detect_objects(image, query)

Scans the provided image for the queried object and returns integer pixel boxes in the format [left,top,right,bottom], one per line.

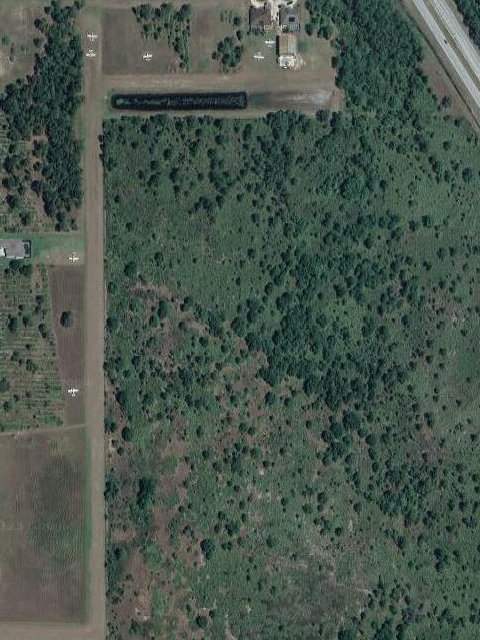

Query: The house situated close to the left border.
[0,239,24,256]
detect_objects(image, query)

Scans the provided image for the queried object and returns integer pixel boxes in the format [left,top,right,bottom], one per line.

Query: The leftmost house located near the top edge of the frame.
[251,3,272,26]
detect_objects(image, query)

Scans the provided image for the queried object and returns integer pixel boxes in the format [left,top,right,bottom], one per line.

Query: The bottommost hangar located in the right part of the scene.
[280,33,299,56]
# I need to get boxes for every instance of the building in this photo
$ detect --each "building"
[280,6,300,26]
[251,3,272,26]
[280,33,299,56]
[0,239,24,256]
